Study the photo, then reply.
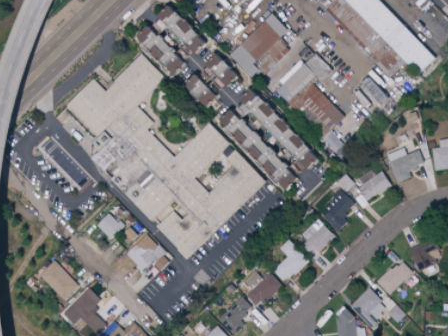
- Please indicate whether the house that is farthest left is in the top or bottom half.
bottom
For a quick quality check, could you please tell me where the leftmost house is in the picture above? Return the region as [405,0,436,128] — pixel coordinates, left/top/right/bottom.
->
[42,261,80,300]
